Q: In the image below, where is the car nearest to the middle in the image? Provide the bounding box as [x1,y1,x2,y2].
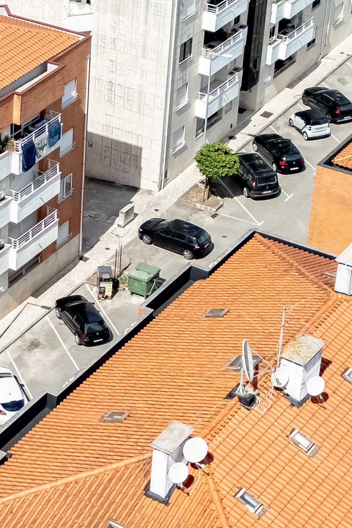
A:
[136,213,217,260]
